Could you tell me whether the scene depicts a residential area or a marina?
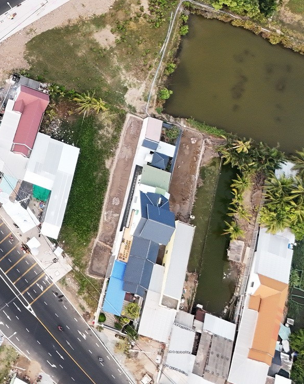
residential area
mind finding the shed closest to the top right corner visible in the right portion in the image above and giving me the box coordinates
[265,162,298,180]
